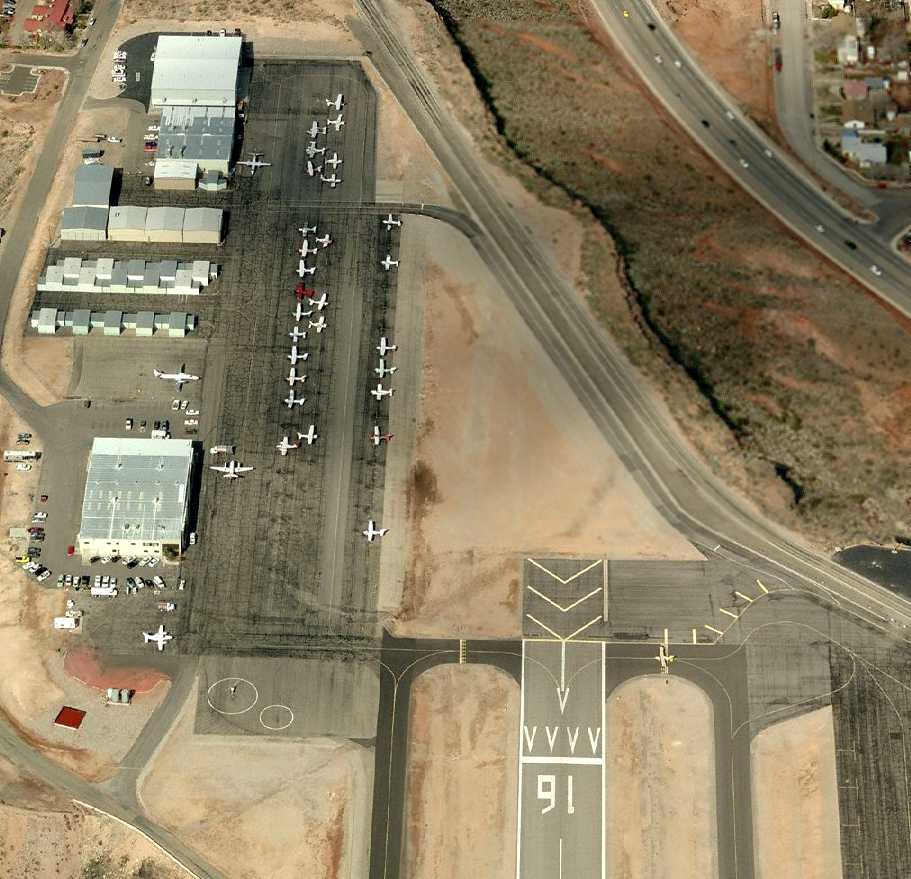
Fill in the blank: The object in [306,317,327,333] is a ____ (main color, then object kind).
white airplane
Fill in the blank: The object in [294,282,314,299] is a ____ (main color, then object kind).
red airplane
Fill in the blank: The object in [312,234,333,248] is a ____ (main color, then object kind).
white airplane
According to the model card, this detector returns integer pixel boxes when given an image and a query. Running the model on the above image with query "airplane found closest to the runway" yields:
[654,644,676,671]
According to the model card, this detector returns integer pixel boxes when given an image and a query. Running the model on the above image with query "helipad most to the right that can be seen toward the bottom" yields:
[260,705,294,730]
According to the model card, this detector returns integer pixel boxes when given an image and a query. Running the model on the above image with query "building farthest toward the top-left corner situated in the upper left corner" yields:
[20,0,79,40]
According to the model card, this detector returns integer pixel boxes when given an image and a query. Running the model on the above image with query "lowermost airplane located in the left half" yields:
[138,623,170,651]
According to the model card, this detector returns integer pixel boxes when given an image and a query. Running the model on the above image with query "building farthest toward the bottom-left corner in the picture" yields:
[79,437,193,566]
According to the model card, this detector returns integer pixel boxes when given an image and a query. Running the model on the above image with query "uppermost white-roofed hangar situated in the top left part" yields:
[150,35,243,126]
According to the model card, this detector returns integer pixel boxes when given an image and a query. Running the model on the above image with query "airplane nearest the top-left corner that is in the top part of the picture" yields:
[238,148,270,170]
